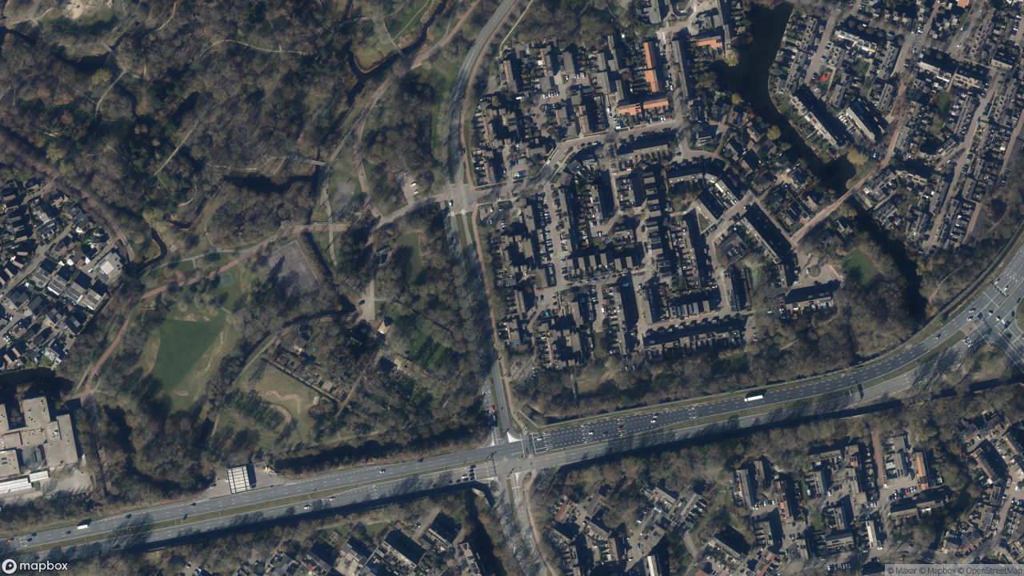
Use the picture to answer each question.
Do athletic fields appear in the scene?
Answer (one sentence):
Yes, this view includes an athletic field.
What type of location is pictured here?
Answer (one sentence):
This looks like a residential area.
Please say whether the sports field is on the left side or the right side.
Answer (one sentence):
The sports field appears in the left half of the scene.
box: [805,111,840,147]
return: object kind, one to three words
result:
building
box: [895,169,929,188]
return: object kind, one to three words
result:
building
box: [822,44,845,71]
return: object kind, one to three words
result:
house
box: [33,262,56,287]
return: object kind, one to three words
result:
house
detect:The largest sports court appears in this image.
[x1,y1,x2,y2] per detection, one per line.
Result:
[263,240,318,302]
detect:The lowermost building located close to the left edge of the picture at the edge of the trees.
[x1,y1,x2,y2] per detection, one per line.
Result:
[0,396,78,493]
